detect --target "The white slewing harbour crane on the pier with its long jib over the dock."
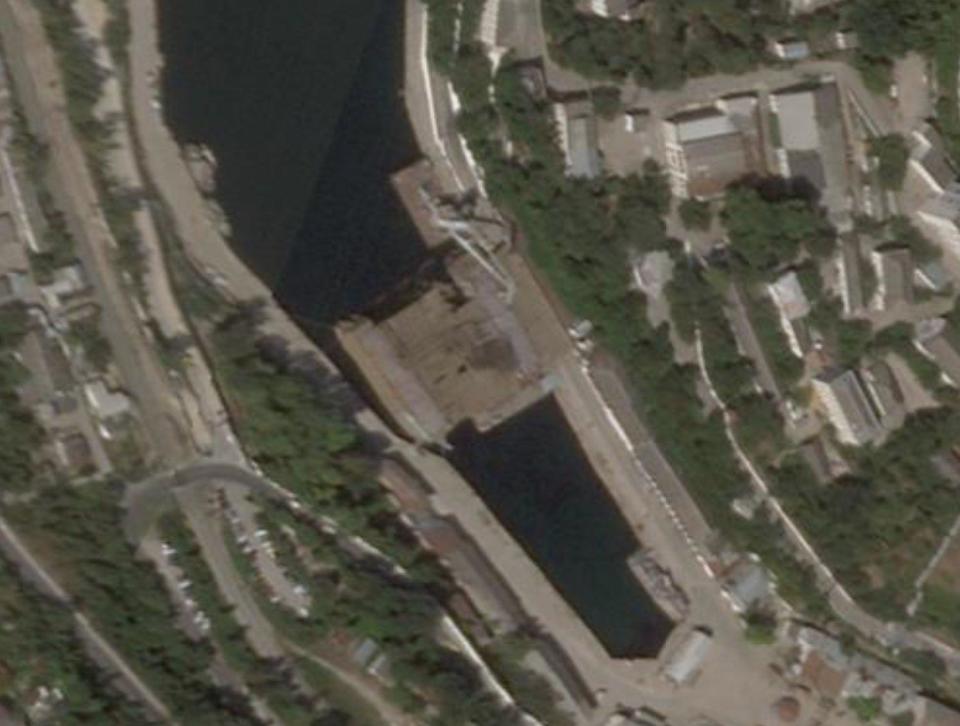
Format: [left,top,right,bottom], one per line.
[416,186,515,296]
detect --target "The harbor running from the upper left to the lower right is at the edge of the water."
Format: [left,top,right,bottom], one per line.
[129,0,806,726]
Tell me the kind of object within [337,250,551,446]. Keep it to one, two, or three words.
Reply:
pier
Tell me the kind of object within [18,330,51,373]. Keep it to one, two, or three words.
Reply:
house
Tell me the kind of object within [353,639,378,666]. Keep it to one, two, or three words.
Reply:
shed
